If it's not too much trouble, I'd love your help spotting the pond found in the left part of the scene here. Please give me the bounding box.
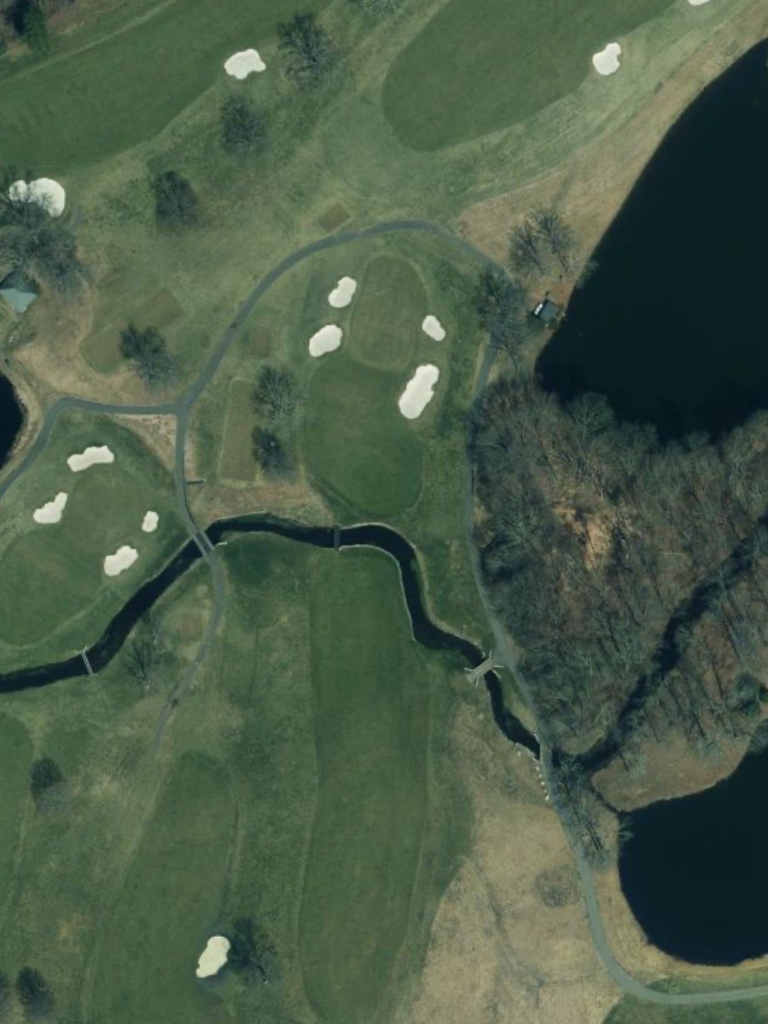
[0,370,25,471]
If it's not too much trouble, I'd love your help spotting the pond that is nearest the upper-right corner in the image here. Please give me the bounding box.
[536,39,768,458]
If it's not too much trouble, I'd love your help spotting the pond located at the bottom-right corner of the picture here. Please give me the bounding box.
[617,728,768,965]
